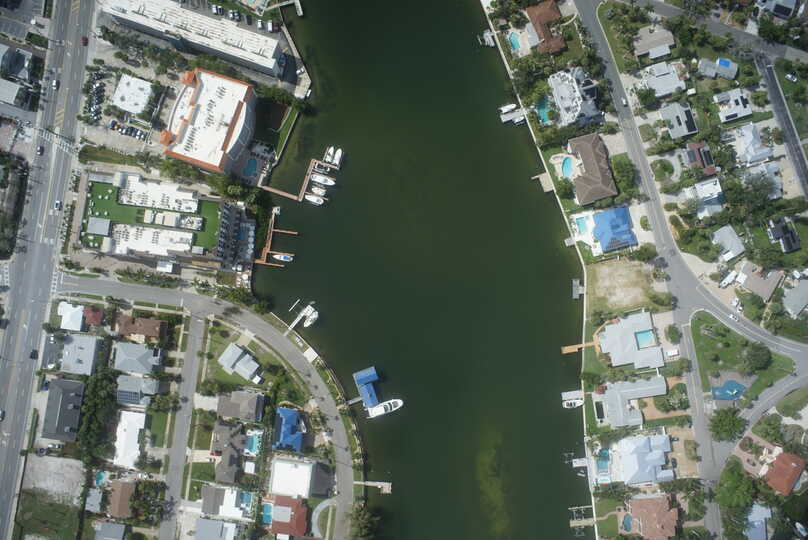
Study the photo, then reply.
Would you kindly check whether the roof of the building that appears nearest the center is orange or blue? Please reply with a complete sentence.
From above, the roof of the building that appears nearest the center appears blue.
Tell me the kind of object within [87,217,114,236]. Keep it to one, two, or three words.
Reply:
building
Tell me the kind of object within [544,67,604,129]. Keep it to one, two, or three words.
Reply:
house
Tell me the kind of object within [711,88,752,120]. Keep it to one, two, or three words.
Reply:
house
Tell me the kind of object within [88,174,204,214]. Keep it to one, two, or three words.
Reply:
building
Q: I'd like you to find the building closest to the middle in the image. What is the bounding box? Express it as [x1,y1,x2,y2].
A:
[351,367,379,407]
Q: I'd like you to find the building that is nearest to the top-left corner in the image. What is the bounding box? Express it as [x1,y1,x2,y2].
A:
[0,43,37,83]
